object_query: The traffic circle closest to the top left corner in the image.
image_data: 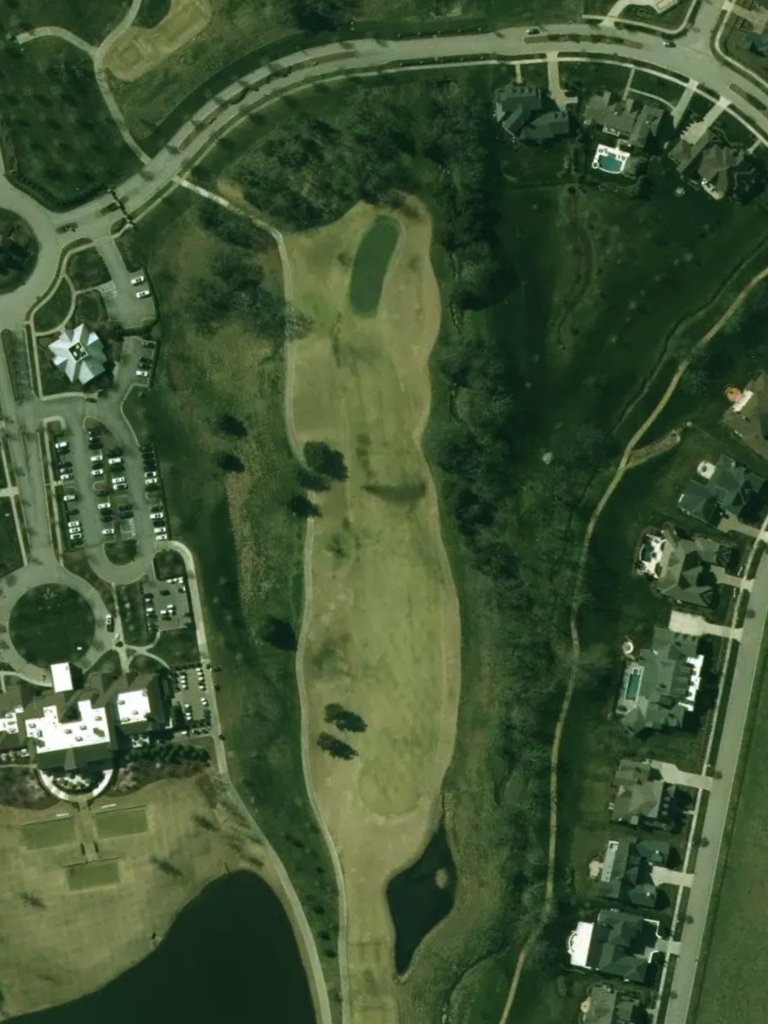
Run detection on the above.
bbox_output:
[0,147,62,328]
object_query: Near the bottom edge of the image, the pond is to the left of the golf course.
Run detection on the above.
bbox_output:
[2,871,312,1024]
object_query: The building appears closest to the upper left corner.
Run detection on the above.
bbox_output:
[48,322,107,384]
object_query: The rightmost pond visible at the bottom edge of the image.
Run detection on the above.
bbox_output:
[389,825,456,973]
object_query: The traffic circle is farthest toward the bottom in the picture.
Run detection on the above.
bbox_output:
[0,562,113,690]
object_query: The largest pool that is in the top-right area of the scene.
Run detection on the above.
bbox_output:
[597,154,624,173]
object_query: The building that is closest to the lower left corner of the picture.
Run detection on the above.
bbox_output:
[0,663,170,770]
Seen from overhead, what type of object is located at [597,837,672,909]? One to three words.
house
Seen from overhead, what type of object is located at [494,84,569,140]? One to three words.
house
